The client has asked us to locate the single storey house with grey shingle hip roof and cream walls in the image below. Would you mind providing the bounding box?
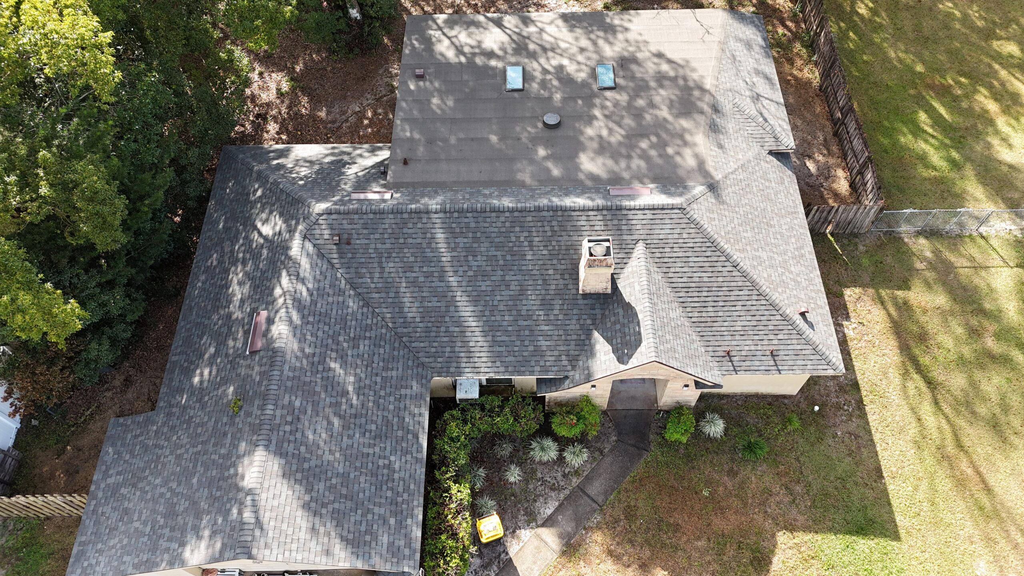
[67,8,845,576]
